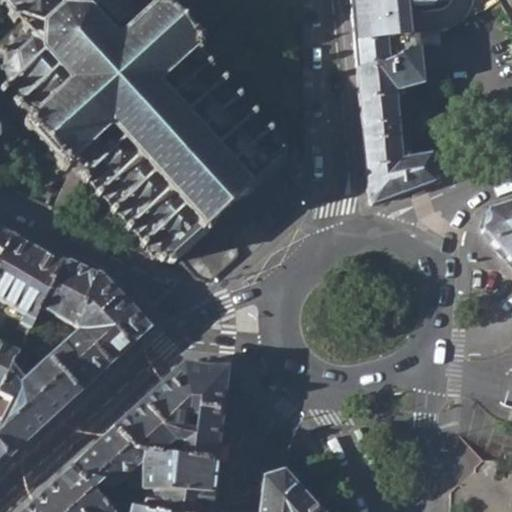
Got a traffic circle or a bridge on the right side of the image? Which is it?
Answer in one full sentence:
Looking on the right side of the image, you will find a traffic circle.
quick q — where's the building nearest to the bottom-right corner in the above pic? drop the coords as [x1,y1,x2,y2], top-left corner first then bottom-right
[260,466,321,512]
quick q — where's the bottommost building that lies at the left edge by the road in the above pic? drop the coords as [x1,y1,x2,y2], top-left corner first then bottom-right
[22,460,105,512]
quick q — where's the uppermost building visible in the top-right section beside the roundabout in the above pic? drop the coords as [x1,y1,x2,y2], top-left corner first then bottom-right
[352,0,438,207]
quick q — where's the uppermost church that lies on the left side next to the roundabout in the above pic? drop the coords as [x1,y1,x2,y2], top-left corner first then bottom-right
[0,0,292,270]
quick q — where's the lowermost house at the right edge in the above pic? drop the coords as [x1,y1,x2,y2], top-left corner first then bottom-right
[481,198,512,264]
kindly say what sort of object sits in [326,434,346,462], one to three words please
vehicle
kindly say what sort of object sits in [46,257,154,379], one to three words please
building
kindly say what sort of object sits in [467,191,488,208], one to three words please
car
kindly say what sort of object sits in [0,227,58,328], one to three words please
house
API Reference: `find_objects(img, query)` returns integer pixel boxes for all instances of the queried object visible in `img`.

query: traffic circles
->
[258,222,461,424]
